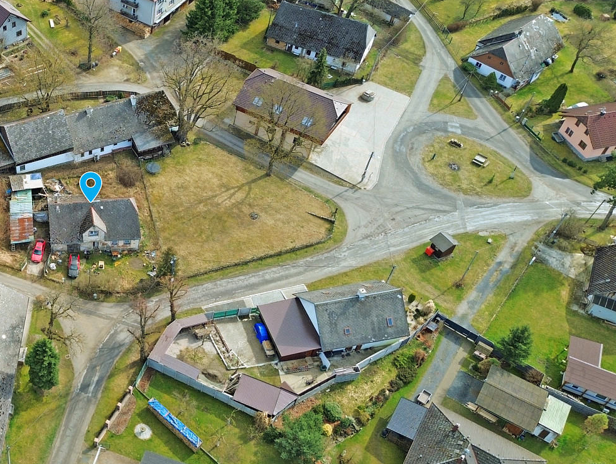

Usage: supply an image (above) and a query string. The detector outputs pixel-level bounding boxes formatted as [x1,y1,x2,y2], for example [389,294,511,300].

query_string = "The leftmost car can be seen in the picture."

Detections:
[31,237,46,262]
